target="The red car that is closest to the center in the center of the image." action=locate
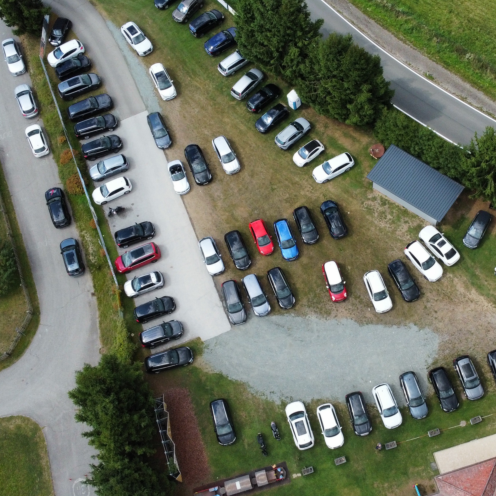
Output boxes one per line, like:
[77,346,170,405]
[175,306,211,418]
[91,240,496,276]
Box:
[249,218,274,256]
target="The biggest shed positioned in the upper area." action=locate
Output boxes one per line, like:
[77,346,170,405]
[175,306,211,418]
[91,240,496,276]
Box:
[366,143,465,225]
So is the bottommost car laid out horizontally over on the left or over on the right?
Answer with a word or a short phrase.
left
